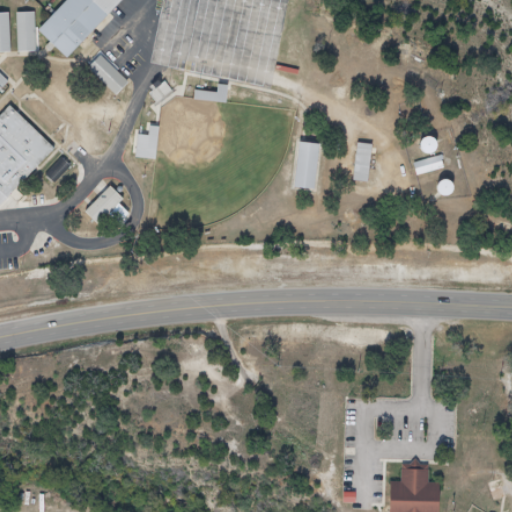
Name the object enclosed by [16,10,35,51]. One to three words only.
building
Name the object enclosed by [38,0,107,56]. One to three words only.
building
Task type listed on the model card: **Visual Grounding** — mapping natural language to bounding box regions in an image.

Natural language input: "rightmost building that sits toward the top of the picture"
[414,154,446,175]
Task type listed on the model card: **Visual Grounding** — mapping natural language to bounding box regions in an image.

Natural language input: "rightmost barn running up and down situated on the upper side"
[354,142,372,181]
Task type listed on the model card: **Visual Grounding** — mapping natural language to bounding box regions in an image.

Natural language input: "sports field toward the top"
[150,98,296,229]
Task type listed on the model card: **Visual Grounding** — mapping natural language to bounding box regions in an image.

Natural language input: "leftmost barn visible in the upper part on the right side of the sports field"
[295,141,320,190]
